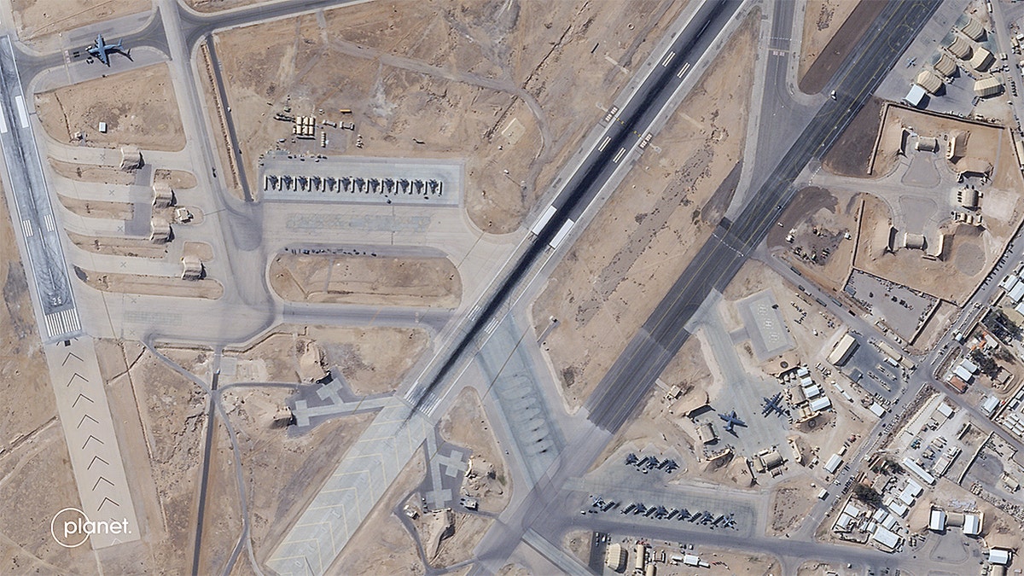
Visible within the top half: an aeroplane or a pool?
aeroplane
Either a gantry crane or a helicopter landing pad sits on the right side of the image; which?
helicopter landing pad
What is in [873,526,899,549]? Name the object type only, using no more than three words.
shed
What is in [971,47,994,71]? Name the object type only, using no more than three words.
hangar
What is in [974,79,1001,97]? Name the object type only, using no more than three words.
hangar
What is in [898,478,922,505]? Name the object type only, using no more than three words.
building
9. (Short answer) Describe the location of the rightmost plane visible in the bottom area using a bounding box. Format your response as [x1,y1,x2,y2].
[765,393,783,415]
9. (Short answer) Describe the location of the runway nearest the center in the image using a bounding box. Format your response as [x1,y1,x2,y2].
[401,0,744,420]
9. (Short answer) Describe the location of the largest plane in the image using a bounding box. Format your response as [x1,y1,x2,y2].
[87,29,127,65]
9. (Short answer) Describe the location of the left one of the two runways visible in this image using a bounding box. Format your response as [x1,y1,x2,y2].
[0,34,81,339]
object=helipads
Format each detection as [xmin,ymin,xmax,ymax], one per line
[731,288,796,360]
